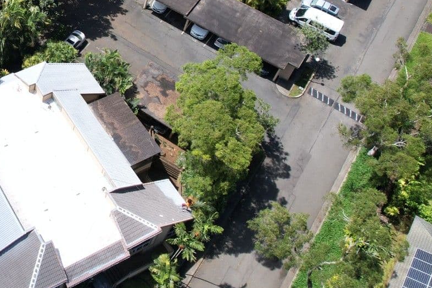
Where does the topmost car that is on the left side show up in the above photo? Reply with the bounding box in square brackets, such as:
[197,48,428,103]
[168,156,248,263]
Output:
[149,1,169,18]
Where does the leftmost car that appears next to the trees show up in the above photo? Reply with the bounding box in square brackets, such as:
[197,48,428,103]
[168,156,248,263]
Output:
[62,23,93,56]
